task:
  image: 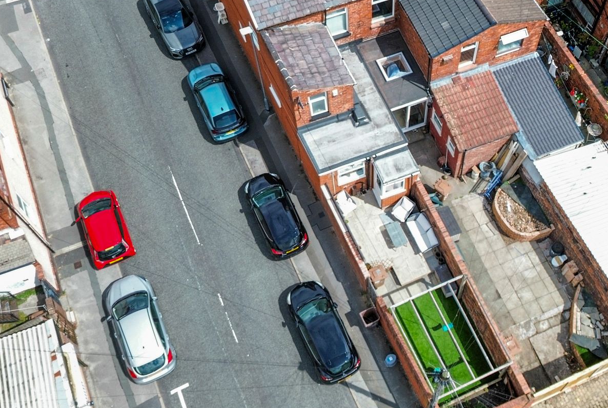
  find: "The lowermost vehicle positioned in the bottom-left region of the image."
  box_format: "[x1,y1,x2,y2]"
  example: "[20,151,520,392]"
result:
[101,273,180,384]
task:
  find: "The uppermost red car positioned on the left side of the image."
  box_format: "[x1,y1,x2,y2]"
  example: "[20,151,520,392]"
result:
[70,187,136,270]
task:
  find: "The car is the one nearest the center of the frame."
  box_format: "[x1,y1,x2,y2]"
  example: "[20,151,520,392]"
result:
[240,169,310,261]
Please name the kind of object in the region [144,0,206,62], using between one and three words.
car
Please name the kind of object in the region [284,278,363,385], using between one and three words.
car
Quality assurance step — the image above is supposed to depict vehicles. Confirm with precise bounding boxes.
[184,62,248,144]
[144,0,206,62]
[240,169,310,261]
[284,278,363,385]
[101,273,180,384]
[70,187,136,270]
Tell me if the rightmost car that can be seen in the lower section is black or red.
black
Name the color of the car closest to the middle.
black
